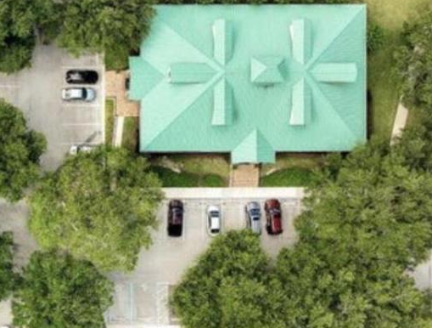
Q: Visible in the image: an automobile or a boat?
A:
automobile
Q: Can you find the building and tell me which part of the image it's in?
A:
top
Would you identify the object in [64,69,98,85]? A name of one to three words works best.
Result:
car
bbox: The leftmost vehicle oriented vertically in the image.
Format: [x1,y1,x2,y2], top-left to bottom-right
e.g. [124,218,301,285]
[167,199,185,236]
